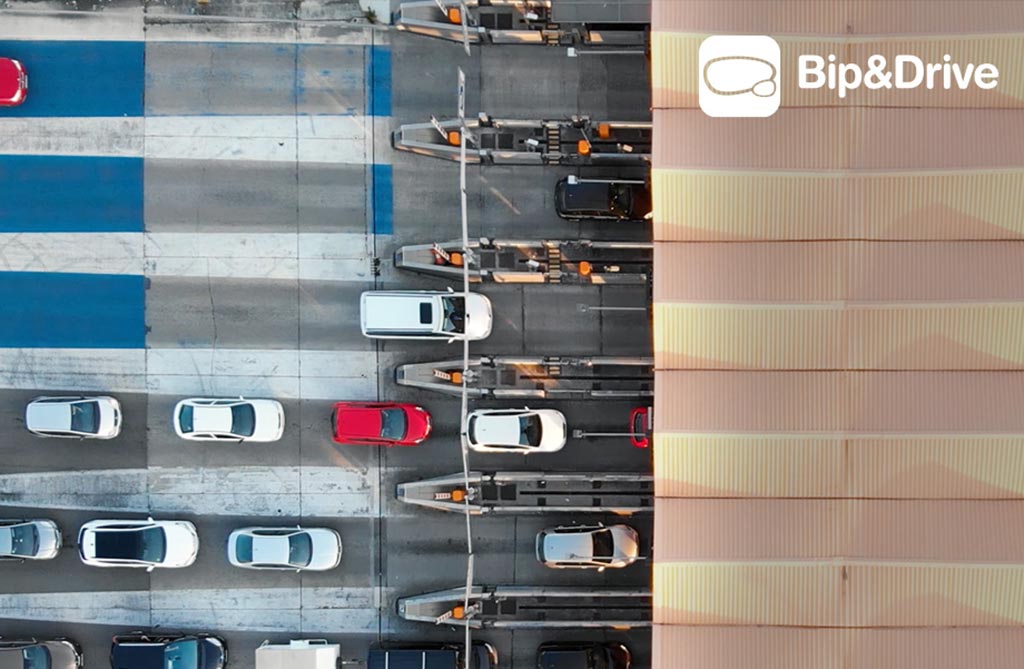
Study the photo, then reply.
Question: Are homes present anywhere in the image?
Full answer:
No, the picture doesn't show any home.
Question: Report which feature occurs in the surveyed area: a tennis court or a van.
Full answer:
Visible in the photo is a van.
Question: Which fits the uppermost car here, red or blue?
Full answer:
From above, the uppermost car appears red.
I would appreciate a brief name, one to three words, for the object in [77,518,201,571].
car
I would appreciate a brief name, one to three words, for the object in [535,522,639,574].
car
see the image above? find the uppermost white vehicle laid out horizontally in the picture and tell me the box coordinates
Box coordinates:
[360,288,492,343]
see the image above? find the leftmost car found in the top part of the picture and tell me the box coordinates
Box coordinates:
[0,61,30,106]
